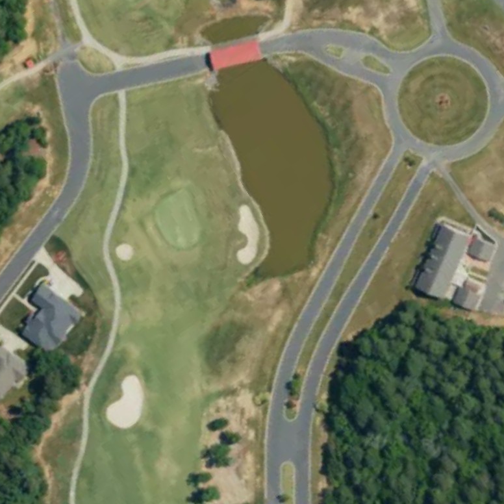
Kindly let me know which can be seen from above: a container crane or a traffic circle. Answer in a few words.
traffic circle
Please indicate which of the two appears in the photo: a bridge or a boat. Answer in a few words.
bridge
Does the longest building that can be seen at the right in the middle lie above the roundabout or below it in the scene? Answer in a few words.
below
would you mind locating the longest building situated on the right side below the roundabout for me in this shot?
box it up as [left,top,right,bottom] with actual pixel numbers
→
[415,222,472,298]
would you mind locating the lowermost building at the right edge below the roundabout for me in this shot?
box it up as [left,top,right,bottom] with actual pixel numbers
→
[452,278,483,310]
